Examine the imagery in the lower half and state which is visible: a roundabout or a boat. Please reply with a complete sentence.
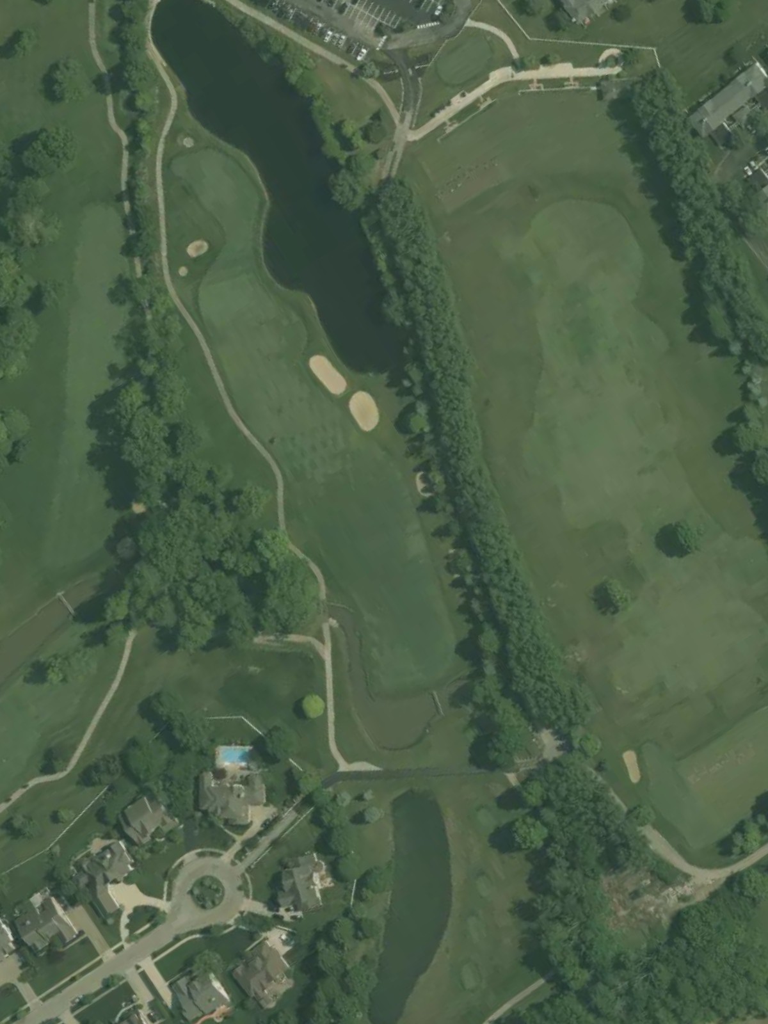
Looking in the lower half, you will find a roundabout.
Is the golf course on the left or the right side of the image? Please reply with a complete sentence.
You can find the golf course on the left side of the picture.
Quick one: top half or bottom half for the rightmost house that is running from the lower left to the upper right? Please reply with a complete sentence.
The rightmost house that is running from the lower left to the upper right is in the top half of the image.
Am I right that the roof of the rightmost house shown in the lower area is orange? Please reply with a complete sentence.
No, from above the roof of the rightmost house shown in the lower area looks gray.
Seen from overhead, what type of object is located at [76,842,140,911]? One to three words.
house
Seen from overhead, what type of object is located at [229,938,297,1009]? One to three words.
house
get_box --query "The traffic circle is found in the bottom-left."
[172,855,243,925]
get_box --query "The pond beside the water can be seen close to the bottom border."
[373,791,451,1024]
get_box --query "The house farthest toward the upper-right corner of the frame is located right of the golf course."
[686,62,768,141]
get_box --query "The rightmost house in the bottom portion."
[276,855,328,914]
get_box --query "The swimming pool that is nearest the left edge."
[220,747,248,765]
